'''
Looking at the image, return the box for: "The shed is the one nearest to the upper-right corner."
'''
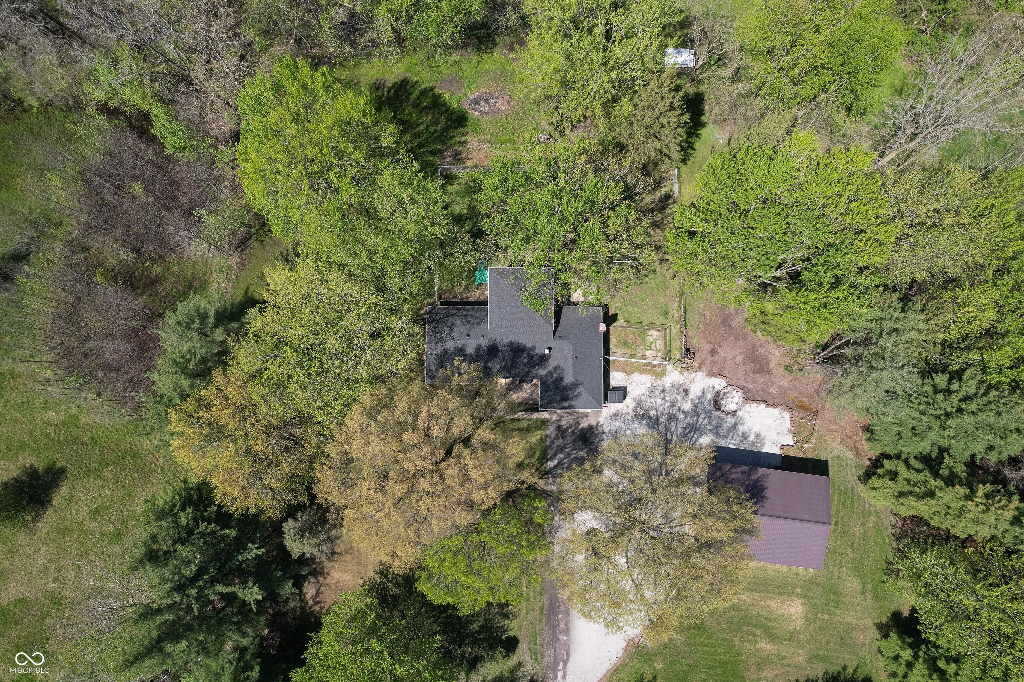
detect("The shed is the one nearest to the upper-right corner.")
[662,48,695,74]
